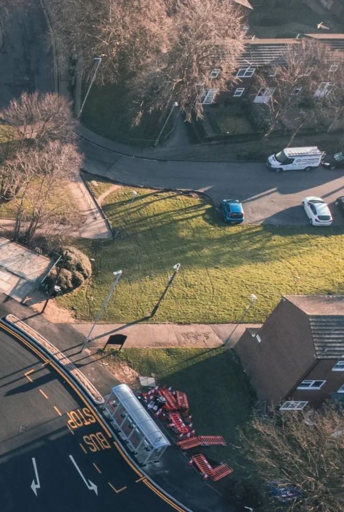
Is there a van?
Yes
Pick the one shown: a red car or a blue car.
blue car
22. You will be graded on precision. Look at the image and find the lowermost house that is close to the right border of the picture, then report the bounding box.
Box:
[229,294,344,404]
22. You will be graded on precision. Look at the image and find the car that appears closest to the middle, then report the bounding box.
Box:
[222,194,248,226]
